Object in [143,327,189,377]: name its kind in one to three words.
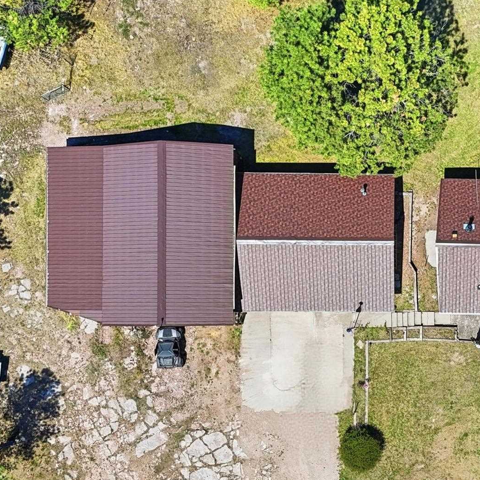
vehicle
